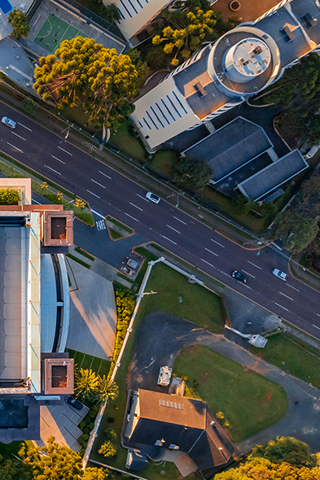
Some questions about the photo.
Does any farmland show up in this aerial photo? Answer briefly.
No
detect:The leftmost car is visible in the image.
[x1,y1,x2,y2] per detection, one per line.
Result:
[0,116,18,129]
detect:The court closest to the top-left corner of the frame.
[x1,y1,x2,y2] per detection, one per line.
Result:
[19,0,126,60]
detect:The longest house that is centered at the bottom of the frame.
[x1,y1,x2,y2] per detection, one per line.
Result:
[121,387,235,471]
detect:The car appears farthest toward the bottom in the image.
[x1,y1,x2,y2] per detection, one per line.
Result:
[65,395,83,410]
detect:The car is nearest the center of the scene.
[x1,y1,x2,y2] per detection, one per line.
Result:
[144,191,162,204]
